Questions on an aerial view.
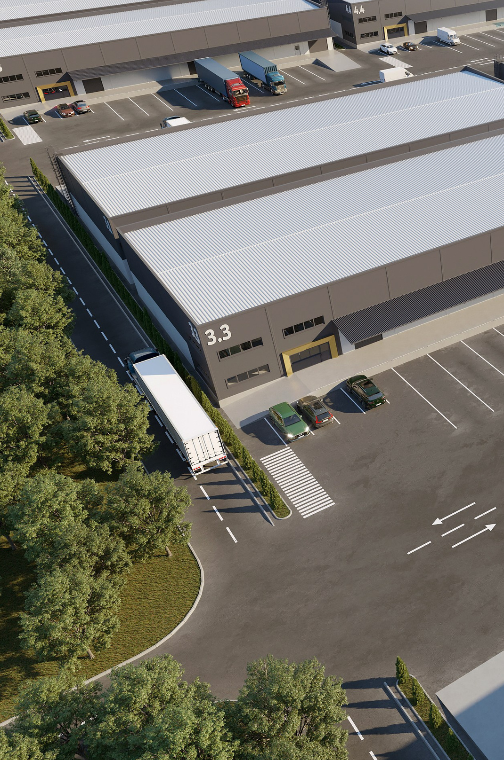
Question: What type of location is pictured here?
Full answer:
The area seen from above is an industrial area.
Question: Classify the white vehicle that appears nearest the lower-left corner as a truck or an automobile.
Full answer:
It turns out the white vehicle that appears nearest the lower-left corner is a truck.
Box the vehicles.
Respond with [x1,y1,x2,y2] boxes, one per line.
[24,111,42,124]
[379,42,398,54]
[400,40,420,51]
[268,401,310,441]
[128,346,227,474]
[296,394,336,428]
[345,376,386,409]
[150,115,188,132]
[239,52,292,93]
[380,71,411,84]
[438,28,460,45]
[55,104,74,116]
[195,56,253,106]
[72,101,91,114]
